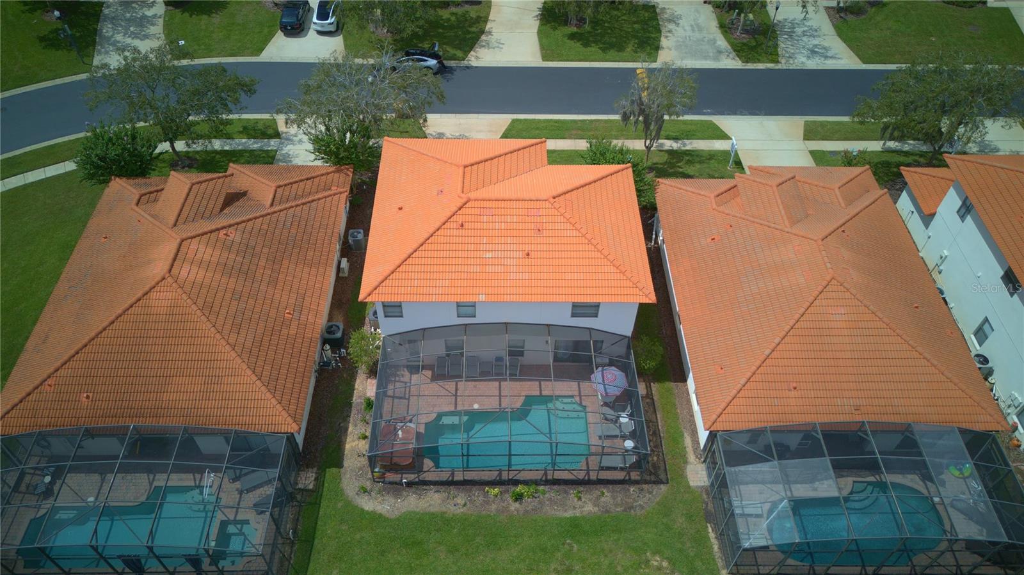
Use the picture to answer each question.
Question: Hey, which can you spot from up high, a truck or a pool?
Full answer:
The image shows a pool.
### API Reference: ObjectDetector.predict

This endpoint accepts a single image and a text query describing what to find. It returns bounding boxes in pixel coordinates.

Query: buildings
[358,136,657,365]
[0,163,351,450]
[653,165,1010,454]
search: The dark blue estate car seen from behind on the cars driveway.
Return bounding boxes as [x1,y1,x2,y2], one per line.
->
[276,0,312,27]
